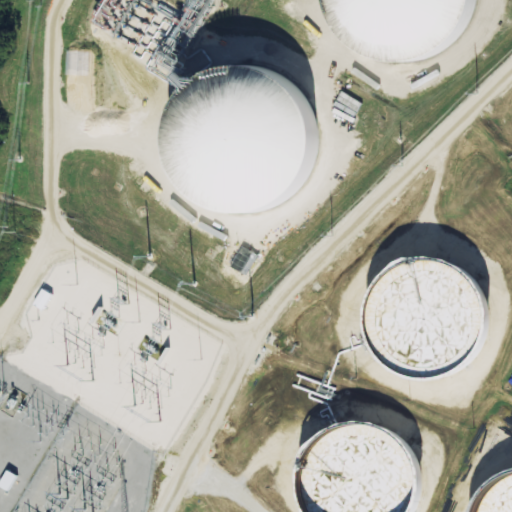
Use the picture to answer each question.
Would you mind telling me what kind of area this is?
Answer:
industrial area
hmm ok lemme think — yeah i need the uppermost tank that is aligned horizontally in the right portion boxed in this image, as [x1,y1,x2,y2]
[322,0,479,68]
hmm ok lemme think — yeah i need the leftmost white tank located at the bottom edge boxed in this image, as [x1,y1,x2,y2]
[292,418,424,512]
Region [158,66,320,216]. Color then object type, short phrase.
white storage tank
